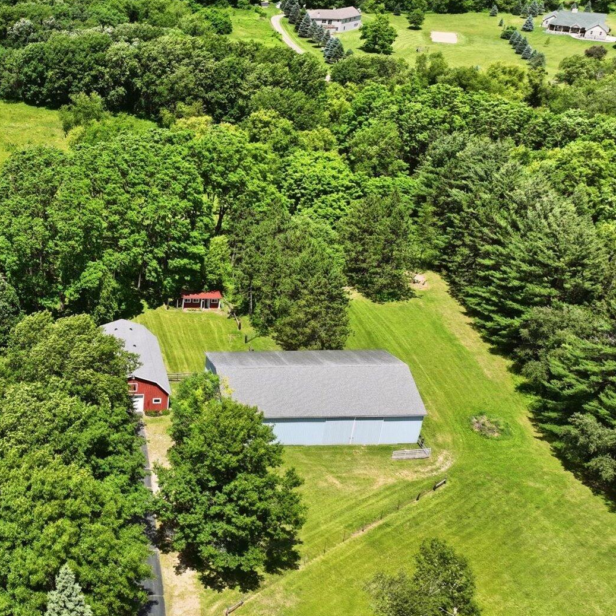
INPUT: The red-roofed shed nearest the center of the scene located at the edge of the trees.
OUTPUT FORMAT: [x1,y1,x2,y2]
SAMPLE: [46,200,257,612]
[182,287,224,309]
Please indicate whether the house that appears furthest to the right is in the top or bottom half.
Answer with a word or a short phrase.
top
